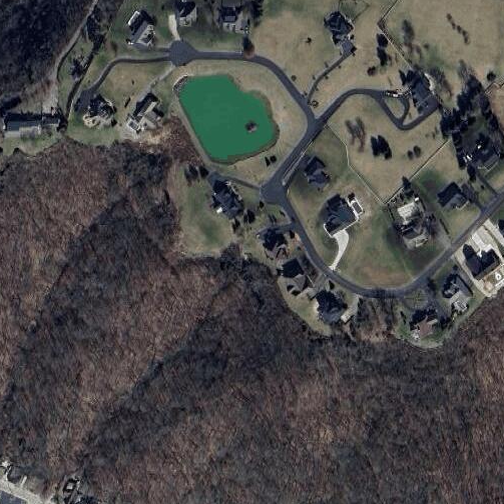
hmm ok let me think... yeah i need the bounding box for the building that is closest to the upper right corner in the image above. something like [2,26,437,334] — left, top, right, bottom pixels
[403,68,441,113]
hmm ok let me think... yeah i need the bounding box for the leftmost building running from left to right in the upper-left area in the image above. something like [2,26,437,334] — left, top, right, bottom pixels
[5,111,62,132]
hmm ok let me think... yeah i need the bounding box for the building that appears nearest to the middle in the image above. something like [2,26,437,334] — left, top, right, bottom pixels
[261,233,288,259]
